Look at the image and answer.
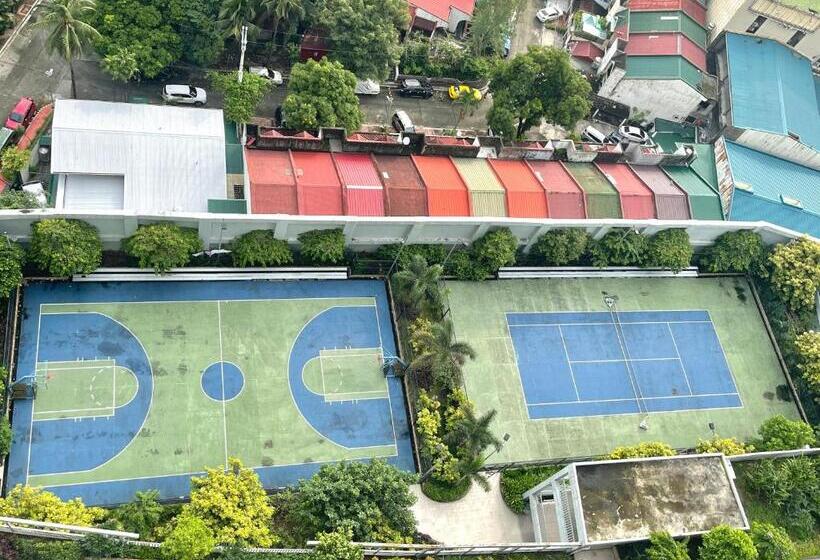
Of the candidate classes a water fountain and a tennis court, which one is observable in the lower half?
tennis court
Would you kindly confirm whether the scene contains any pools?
No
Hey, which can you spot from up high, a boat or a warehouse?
warehouse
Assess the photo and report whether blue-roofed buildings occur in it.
Yes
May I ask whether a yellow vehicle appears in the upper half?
Yes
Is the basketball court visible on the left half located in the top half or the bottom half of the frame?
bottom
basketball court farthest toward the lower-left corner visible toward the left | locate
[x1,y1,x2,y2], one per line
[4,279,415,510]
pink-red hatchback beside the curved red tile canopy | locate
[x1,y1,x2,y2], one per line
[7,95,40,137]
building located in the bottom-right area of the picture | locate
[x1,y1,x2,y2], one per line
[513,451,753,554]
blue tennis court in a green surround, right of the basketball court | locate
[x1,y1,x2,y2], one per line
[446,276,802,467]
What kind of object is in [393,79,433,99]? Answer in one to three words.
car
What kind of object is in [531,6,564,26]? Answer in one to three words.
car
